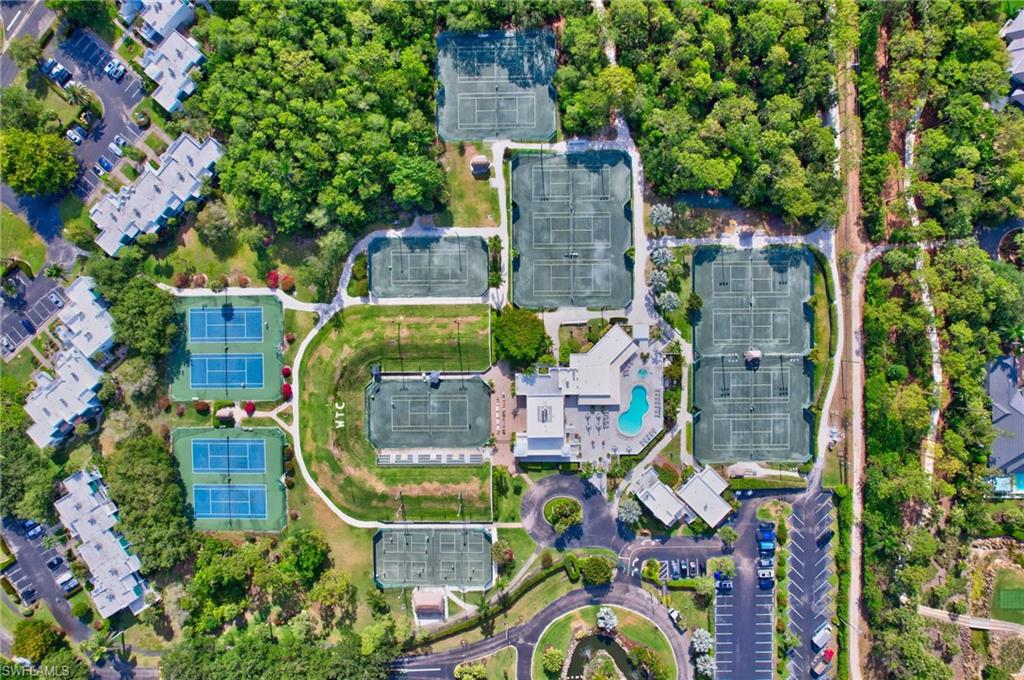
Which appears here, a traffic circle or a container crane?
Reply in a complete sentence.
Looking from above, you can make out a traffic circle.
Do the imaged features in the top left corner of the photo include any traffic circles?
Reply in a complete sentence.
No, in the top left corner of the photo there is no traffic circle.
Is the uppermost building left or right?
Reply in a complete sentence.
It is on the left.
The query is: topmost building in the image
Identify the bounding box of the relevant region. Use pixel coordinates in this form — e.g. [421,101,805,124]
[119,0,199,53]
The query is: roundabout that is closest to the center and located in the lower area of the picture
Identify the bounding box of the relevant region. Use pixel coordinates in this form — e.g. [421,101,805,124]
[530,479,599,547]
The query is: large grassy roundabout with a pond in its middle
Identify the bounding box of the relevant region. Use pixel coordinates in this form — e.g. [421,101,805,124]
[518,589,692,680]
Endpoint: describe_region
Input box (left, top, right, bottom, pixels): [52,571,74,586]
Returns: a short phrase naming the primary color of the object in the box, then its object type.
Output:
white vehicle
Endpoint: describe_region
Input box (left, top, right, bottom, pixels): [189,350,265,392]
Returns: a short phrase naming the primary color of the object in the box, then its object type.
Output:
blue tennis court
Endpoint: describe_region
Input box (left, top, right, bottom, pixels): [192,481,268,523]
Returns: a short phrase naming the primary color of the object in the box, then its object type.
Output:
blue tennis court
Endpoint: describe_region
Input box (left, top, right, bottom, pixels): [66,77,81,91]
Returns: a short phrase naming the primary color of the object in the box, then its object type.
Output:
white car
